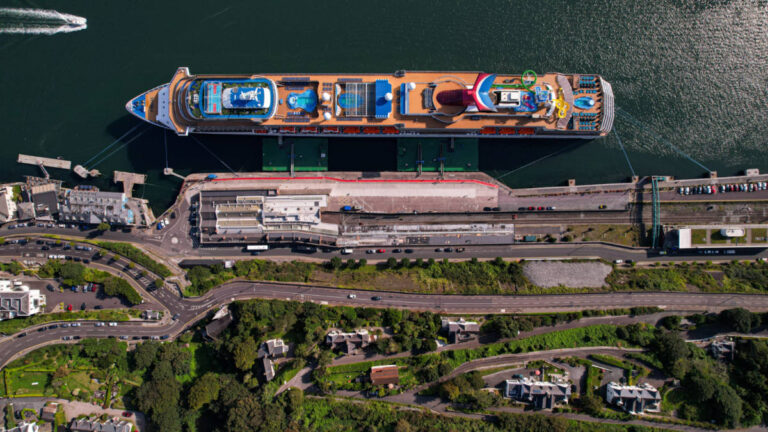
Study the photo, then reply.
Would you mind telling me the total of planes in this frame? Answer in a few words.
none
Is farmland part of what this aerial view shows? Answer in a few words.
No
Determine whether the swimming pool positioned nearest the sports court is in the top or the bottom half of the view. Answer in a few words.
top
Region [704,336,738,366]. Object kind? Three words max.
house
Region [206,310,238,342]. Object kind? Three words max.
house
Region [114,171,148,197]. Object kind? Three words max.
pier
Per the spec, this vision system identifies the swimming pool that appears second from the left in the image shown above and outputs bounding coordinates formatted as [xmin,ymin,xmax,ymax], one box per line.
[339,92,368,109]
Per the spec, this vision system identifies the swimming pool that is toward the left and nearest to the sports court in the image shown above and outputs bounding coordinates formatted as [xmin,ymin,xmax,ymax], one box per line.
[288,90,317,112]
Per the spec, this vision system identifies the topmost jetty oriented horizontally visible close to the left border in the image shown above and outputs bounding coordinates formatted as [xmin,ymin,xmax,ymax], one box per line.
[17,154,72,170]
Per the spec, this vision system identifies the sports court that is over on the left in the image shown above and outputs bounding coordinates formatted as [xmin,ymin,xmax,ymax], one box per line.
[204,81,224,115]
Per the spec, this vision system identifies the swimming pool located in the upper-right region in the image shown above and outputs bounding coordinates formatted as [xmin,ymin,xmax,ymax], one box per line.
[574,97,594,109]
